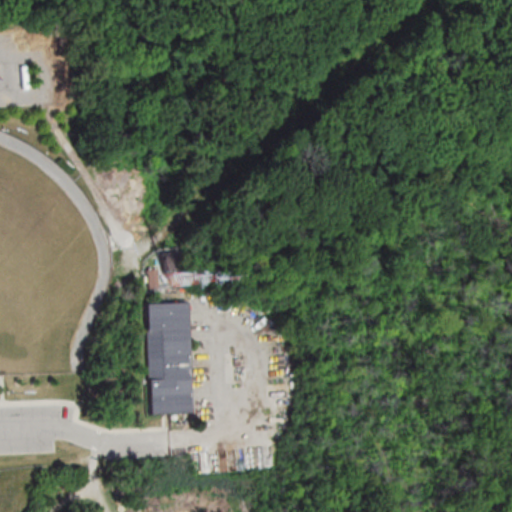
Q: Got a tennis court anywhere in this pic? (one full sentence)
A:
No, no tennis court is visible in the scene.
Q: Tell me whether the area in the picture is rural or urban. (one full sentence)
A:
From above, the setting appears rural.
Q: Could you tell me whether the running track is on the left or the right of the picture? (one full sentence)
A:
The running track is on the left side of the image.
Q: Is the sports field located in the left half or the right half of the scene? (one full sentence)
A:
The sports field sits on the left side.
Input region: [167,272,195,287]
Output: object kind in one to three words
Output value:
shed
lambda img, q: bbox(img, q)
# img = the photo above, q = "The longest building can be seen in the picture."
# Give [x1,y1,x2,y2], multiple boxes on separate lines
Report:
[148,304,192,414]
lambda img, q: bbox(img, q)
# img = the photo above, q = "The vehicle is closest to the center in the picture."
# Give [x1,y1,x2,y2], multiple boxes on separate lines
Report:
[250,316,270,334]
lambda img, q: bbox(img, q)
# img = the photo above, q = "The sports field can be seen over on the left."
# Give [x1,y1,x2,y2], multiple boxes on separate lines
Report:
[0,146,96,372]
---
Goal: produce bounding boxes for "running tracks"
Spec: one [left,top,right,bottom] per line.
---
[0,132,108,372]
